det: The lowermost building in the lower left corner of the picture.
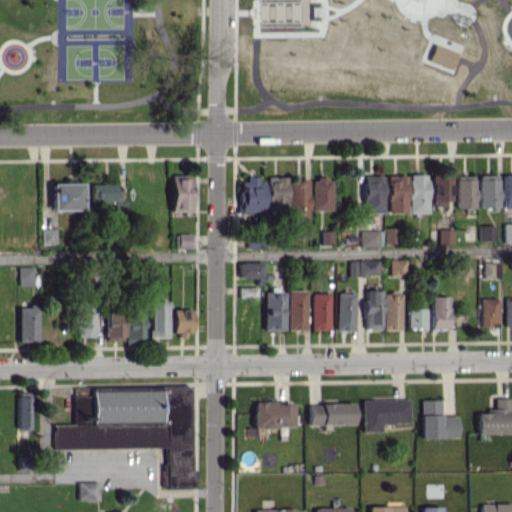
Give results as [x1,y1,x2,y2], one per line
[78,483,102,502]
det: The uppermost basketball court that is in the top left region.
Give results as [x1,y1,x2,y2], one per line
[64,0,130,30]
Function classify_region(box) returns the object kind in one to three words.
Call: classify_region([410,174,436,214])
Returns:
house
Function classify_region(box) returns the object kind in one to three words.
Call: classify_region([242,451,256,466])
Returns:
swimming pool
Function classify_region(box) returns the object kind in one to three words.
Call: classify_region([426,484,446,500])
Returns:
shed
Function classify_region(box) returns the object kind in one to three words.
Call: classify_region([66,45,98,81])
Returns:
basketball court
